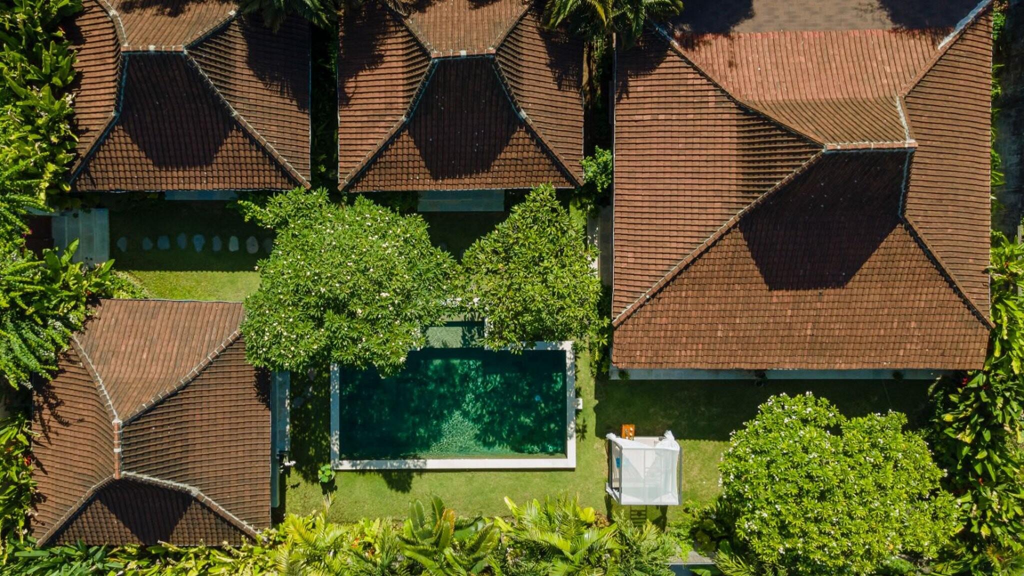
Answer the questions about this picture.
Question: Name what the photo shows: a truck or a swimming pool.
swimming pool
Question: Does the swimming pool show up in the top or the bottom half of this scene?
bottom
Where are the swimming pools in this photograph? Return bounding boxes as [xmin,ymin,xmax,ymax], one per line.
[330,303,576,469]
